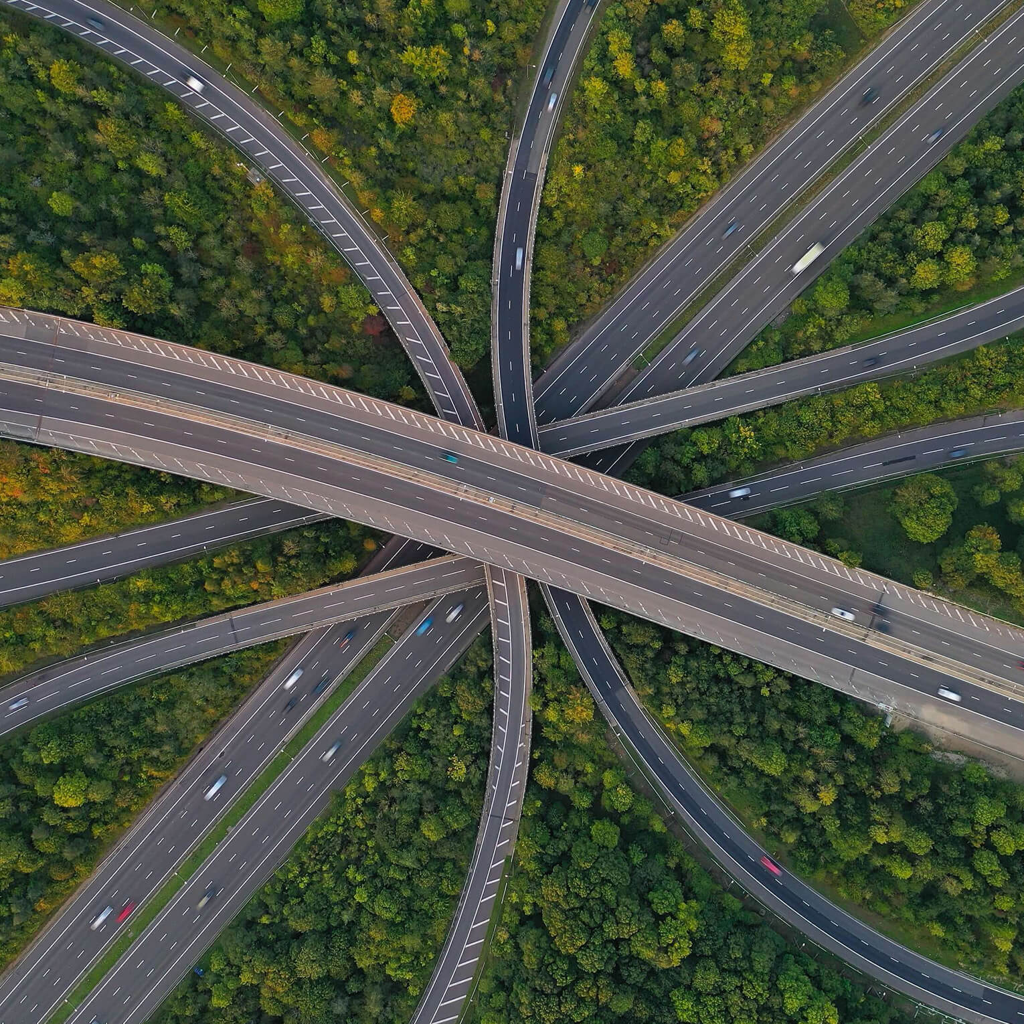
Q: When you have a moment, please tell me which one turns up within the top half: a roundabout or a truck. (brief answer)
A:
truck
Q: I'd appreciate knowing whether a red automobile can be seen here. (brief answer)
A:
Yes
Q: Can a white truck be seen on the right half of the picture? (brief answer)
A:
Yes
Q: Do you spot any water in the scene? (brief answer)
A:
No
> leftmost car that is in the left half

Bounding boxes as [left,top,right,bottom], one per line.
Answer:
[10,696,29,709]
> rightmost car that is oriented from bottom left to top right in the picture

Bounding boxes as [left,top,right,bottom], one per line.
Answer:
[926,129,943,145]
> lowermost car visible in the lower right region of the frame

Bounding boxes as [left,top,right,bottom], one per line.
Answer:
[761,856,780,873]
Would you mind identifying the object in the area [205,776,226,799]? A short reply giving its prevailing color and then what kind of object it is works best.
white vehicle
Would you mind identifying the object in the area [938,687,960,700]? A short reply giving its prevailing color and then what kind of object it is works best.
white vehicle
